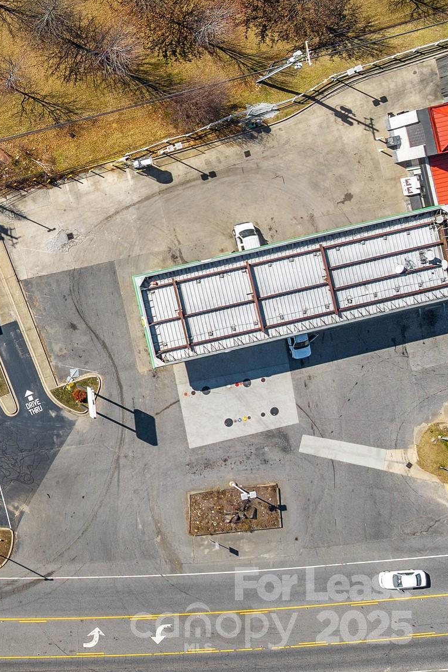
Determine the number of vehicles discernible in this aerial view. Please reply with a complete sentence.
The photo contains 3 vehicles.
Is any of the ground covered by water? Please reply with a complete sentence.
No, no water is visible.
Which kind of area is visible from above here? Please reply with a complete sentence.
The area seen from above is an industrial area.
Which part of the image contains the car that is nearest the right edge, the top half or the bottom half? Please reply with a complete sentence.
You can find the car that is nearest the right edge in the bottom half.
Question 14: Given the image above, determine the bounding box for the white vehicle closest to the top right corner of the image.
[231,219,259,250]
